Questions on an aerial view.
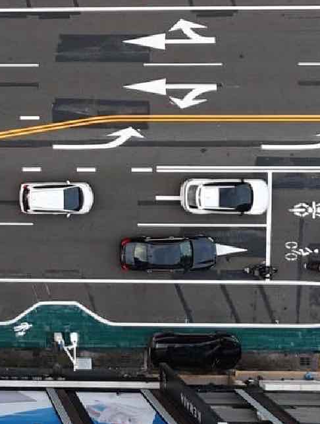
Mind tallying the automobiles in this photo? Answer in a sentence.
My tally gives 4 automobiles in this view.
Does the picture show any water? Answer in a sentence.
No, the scene doesn't show any water.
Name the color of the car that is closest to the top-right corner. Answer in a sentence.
In this view, the car that is closest to the top-right corner is white.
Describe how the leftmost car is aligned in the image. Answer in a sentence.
The leftmost car has been laid out from left to right relative to the frame.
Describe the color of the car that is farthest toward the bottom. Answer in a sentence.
The car that is farthest toward the bottom is black.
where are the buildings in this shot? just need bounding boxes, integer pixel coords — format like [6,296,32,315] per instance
[194,378,320,424]
[0,370,201,424]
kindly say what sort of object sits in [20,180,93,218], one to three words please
car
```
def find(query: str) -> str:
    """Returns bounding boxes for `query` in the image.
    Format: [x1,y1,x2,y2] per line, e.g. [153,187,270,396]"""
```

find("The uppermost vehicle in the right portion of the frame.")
[179,175,266,218]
